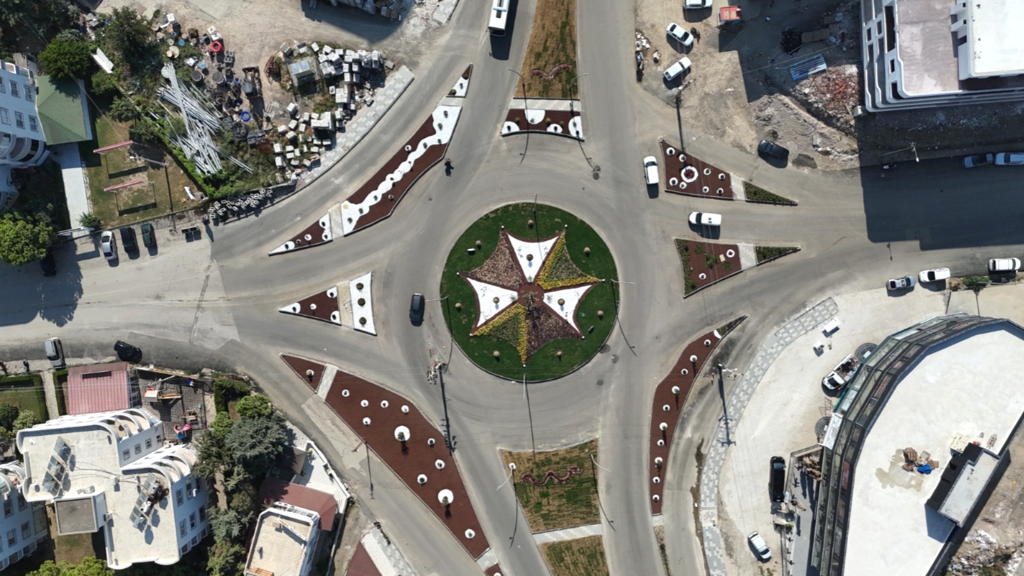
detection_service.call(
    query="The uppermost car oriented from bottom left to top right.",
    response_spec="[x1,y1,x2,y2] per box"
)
[661,57,692,82]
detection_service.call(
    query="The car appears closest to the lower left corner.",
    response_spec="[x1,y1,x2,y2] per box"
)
[45,334,67,367]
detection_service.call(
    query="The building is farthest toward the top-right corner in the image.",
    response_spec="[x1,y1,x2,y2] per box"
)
[856,0,1024,116]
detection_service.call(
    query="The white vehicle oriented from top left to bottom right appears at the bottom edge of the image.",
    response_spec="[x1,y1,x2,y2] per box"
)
[746,532,771,561]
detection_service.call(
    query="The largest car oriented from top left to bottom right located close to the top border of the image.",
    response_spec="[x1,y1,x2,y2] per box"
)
[663,22,695,49]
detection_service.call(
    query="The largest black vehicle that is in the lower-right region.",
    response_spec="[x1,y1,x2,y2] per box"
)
[769,457,787,502]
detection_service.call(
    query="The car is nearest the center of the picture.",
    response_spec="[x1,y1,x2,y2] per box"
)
[409,292,425,325]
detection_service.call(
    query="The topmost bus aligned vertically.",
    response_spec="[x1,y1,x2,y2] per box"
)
[484,0,509,40]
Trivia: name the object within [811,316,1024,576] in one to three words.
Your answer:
building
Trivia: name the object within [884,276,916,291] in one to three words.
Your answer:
car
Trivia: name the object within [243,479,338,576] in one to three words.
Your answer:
house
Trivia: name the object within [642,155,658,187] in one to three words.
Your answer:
vehicle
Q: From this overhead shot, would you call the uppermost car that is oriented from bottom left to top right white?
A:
Yes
